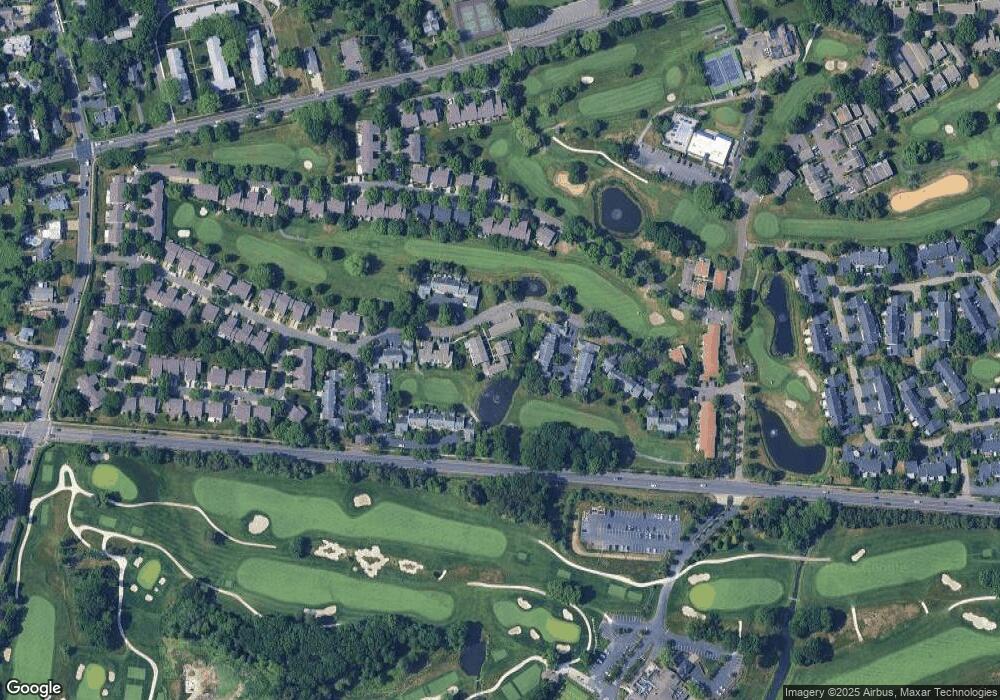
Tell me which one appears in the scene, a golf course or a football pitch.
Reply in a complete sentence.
The one in the frame is a golf course.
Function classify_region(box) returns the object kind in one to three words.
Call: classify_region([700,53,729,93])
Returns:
tennis court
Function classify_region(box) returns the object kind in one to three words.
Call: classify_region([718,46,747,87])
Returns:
tennis court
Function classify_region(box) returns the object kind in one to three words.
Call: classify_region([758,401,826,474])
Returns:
pond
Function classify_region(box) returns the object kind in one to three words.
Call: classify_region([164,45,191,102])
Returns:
building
